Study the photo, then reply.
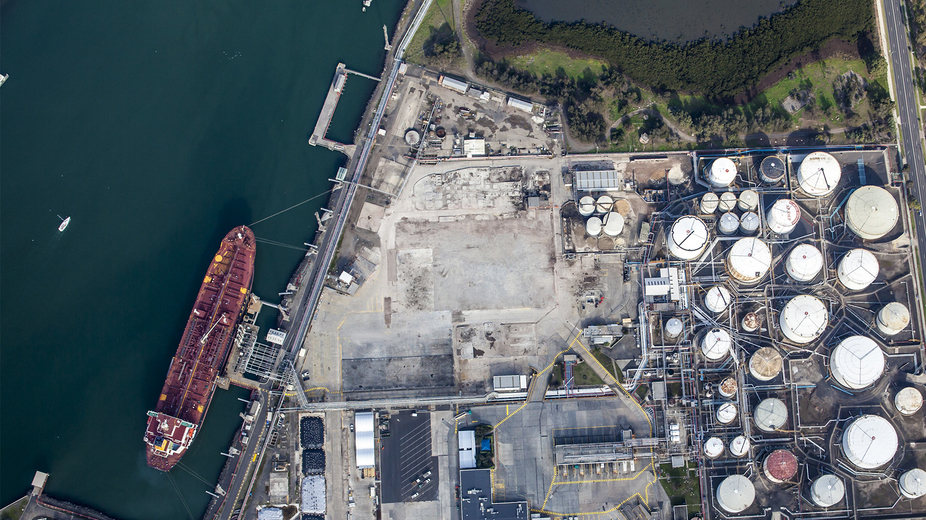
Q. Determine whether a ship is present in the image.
Yes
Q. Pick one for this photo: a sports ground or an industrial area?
industrial area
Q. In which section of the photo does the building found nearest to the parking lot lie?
bottom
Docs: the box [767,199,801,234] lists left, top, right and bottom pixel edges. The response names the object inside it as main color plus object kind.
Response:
white storage tank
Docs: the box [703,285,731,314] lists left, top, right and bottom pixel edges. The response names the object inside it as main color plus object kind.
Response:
white storage tank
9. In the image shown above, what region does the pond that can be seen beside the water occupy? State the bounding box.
[515,0,799,42]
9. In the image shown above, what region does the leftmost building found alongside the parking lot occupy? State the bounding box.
[355,412,375,468]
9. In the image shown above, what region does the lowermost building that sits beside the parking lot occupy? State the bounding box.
[460,469,528,520]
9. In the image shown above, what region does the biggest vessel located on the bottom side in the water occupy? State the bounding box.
[146,225,255,471]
